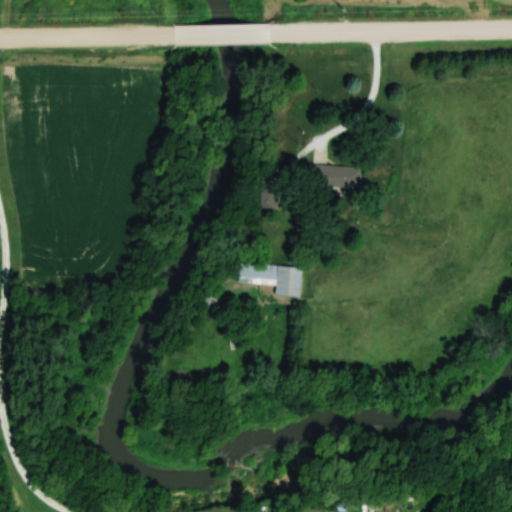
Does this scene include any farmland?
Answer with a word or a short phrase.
Yes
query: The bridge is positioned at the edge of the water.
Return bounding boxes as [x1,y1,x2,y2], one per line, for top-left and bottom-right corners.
[170,22,276,49]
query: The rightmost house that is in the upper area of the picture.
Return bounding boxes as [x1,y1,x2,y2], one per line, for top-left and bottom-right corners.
[314,162,362,190]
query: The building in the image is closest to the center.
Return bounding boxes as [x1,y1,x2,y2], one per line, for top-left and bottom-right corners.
[240,262,303,298]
